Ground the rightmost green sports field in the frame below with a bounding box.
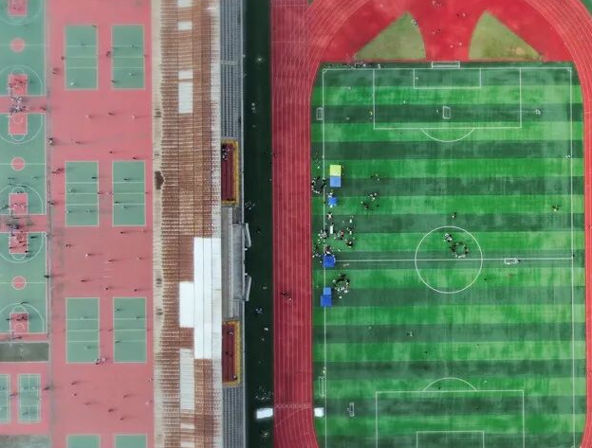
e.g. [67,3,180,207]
[310,62,587,448]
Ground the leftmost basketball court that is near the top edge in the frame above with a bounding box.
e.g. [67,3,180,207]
[0,0,46,96]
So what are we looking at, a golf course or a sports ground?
sports ground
